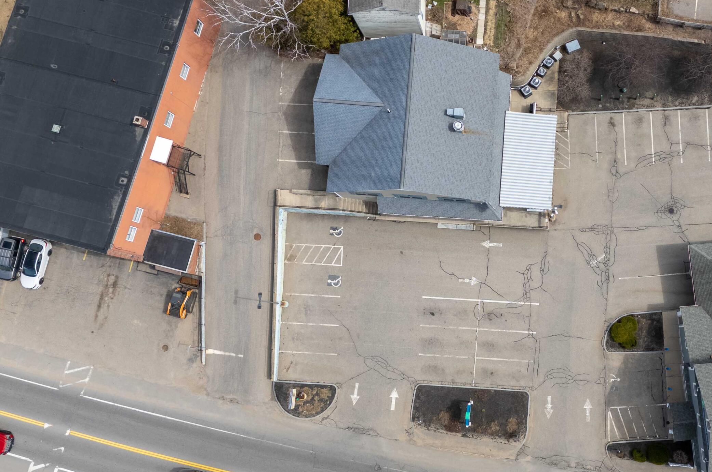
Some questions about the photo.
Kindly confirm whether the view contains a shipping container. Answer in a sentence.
No, I can see no shipping container in this picture.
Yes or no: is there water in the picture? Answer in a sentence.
No, there is no water in the image.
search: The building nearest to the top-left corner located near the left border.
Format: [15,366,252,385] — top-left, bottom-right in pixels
[0,0,215,255]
